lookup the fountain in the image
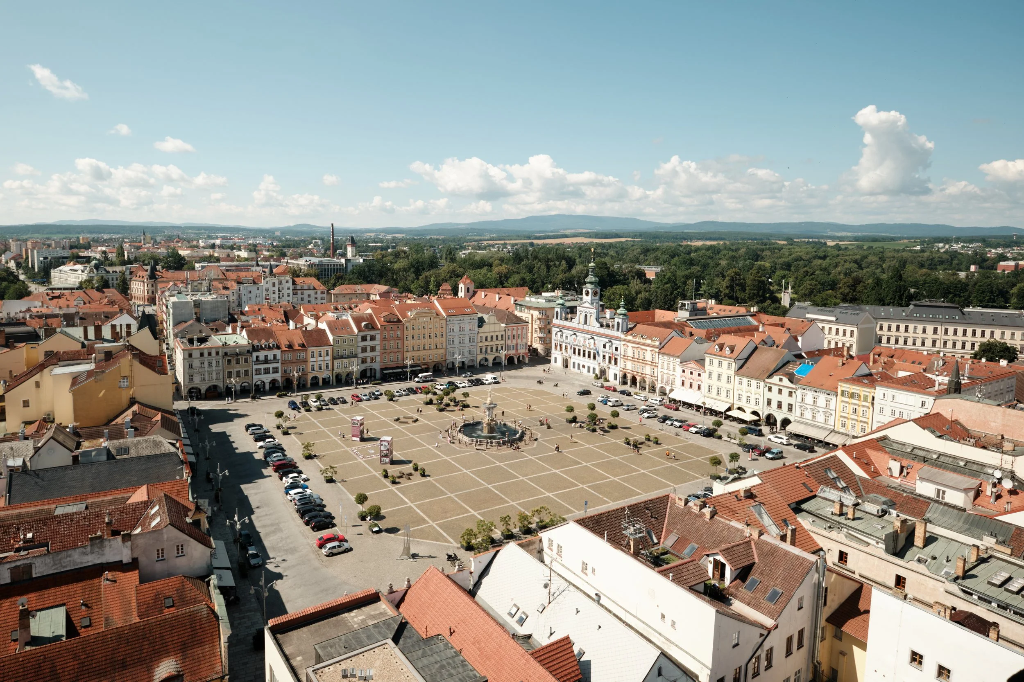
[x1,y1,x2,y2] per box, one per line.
[455,387,523,442]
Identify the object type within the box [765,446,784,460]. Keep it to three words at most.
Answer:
vehicle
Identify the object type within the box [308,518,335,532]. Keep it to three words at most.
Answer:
car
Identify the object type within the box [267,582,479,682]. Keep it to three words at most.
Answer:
house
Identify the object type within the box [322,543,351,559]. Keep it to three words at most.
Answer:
car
